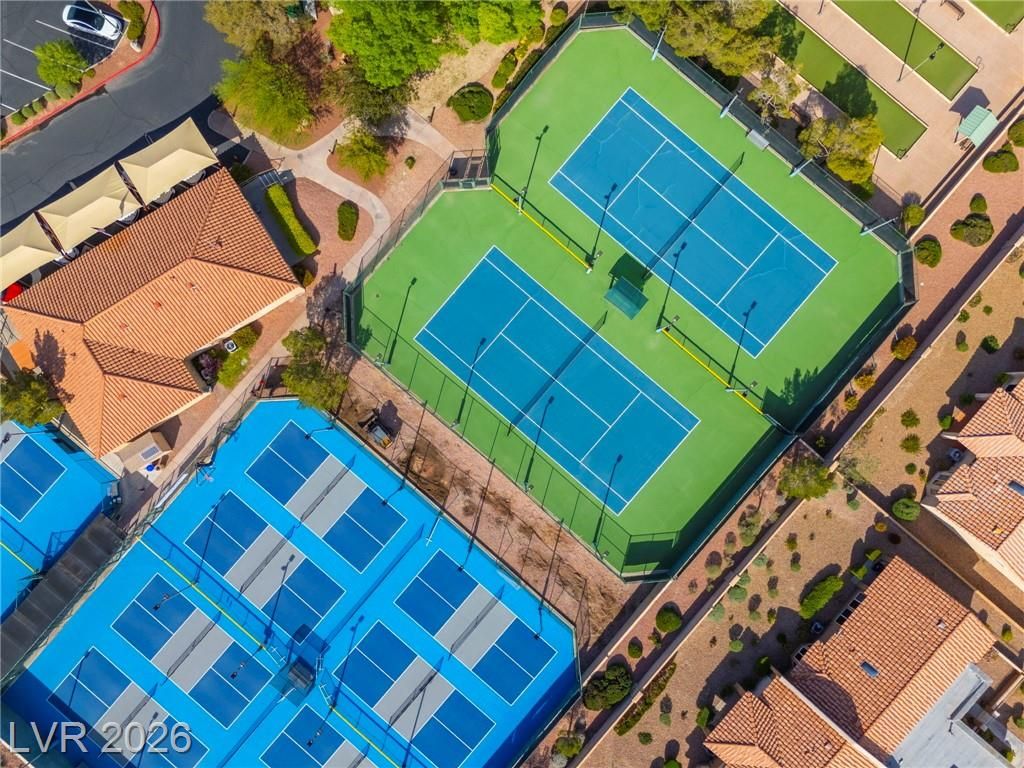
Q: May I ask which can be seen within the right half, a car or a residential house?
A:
residential house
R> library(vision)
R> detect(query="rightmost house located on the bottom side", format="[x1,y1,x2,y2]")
[922,375,1024,581]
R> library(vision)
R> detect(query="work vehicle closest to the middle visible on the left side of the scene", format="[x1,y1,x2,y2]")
[359,411,400,453]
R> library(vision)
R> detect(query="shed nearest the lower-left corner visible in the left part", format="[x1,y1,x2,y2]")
[116,431,184,474]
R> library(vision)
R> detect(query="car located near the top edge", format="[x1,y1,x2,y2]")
[59,1,119,41]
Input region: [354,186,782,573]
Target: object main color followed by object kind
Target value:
green tennis court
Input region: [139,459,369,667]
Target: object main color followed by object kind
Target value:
blue sports court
